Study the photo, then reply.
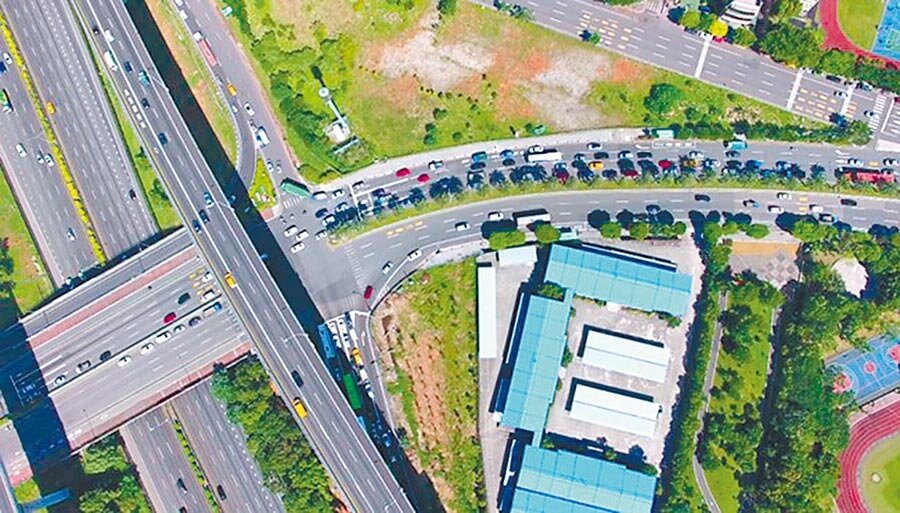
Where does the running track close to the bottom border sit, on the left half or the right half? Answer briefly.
right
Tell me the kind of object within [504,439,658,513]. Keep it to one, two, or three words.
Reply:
building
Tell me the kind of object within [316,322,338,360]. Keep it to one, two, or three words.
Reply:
bus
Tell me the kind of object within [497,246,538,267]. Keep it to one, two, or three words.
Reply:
shed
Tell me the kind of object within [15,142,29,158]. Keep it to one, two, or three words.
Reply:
vehicle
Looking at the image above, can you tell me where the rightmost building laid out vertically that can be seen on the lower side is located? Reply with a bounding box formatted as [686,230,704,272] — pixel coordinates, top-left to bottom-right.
[493,295,571,430]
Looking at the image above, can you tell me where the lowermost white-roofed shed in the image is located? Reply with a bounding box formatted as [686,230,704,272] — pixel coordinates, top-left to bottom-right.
[570,382,662,437]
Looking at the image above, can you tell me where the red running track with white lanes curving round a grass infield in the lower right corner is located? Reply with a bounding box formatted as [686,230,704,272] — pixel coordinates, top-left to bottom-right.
[835,390,900,513]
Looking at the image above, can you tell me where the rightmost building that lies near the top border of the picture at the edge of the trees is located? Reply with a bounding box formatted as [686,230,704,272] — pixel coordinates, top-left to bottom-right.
[713,0,765,33]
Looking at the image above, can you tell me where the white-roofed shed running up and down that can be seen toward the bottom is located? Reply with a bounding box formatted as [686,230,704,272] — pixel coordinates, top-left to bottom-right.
[478,266,497,358]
